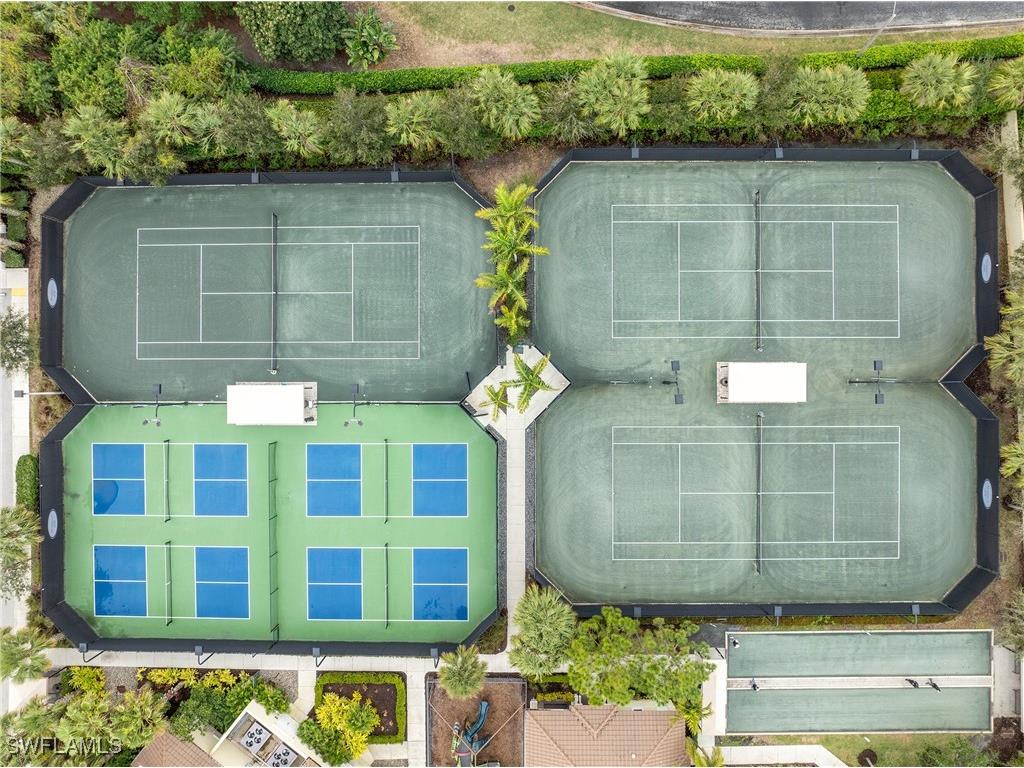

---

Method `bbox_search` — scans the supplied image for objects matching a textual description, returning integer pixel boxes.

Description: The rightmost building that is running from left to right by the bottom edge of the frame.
[526,689,690,768]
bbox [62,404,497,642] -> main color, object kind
green sports court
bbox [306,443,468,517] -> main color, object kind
blue sports court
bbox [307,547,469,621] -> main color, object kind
blue sports court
